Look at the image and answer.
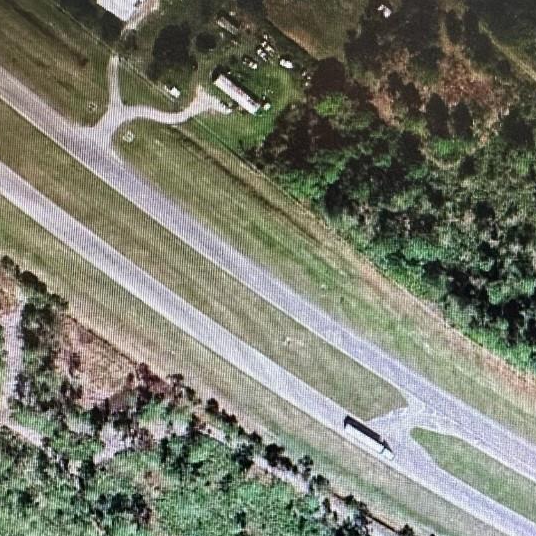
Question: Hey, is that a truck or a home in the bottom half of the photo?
truck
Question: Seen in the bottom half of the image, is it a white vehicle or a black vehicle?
white vehicle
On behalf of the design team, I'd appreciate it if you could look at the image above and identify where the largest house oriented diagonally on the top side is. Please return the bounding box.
[214,74,260,114]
